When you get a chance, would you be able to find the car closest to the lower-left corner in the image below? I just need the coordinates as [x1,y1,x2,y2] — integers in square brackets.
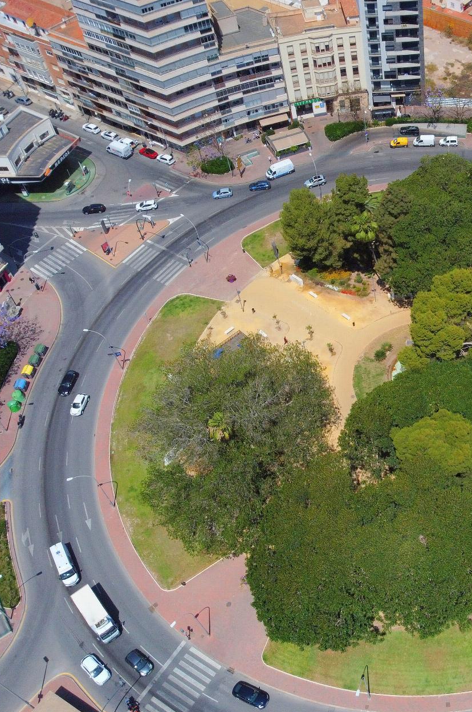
[80,653,110,687]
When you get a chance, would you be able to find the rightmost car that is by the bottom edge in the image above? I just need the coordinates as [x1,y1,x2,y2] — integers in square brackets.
[231,683,269,708]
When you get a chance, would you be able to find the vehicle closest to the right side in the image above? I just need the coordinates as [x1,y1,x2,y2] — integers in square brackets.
[438,136,459,148]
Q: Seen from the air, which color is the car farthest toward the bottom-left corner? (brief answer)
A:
white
